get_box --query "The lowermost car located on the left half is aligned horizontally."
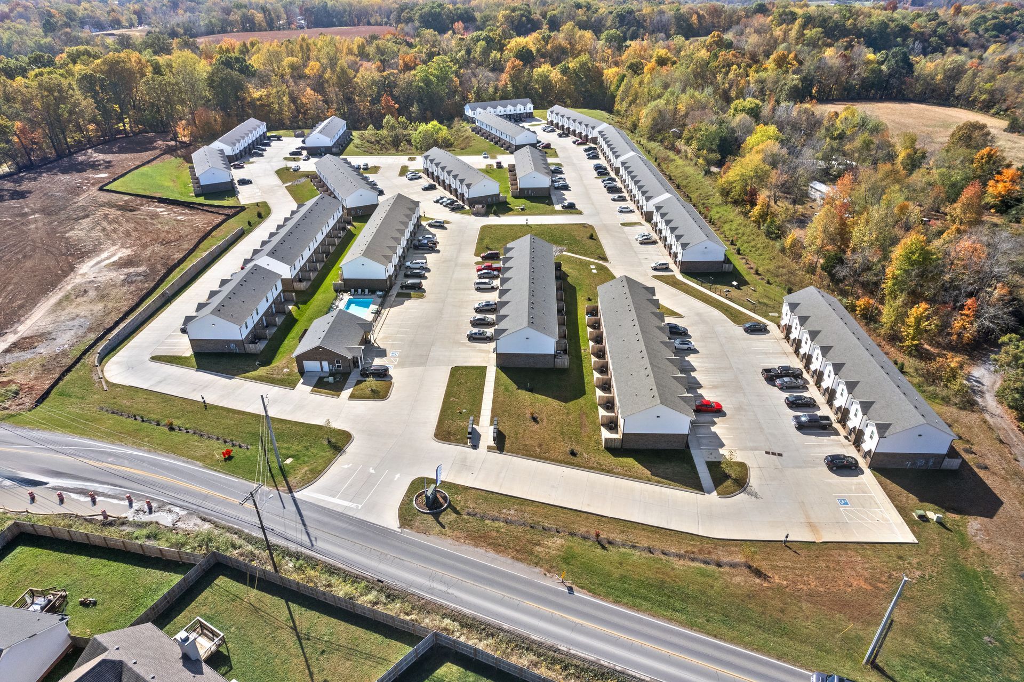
[360,363,390,377]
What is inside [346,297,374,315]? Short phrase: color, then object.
blue swimming pool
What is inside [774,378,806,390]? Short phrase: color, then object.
gray vehicle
